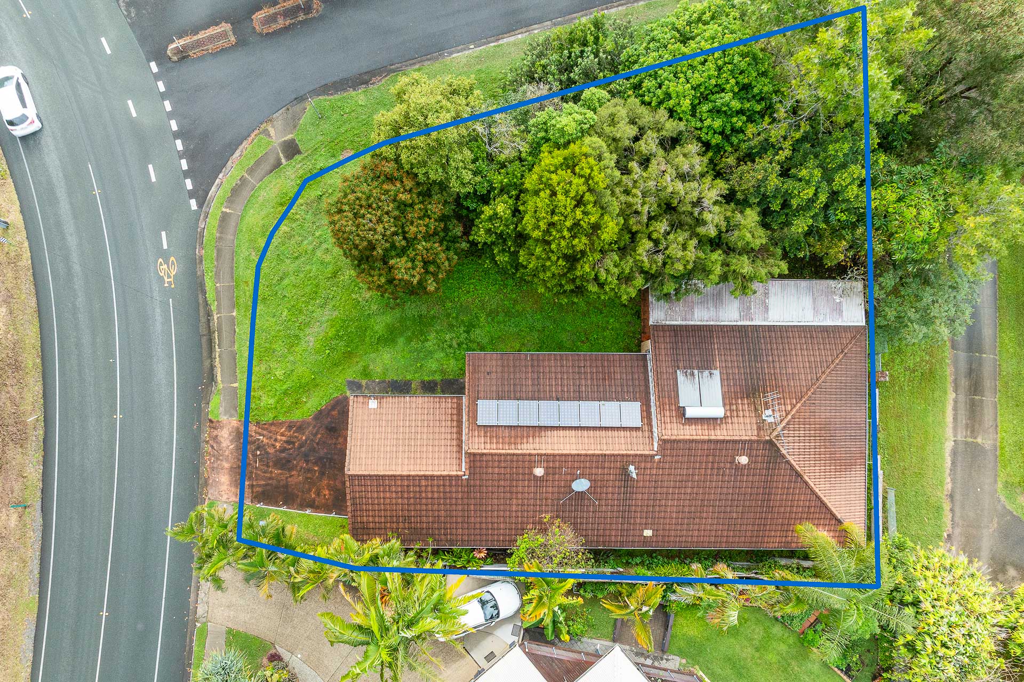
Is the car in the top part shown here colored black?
No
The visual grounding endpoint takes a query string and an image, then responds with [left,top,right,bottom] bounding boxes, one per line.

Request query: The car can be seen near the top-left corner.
[0,60,43,132]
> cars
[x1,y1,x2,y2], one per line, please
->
[0,60,43,132]
[446,581,523,645]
